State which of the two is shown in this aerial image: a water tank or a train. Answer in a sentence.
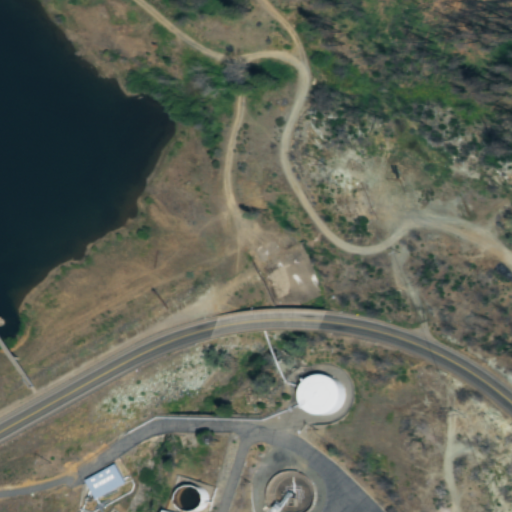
There is a water tank in the scene.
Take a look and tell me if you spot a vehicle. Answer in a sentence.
No, I can't see a single vehicle in this photo.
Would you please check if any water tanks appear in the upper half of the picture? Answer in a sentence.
No, there is no water tank in the upper half of the picture.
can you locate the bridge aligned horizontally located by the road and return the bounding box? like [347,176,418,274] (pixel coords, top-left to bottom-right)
[212,309,326,338]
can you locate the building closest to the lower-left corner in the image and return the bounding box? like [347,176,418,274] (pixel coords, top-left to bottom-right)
[86,464,126,500]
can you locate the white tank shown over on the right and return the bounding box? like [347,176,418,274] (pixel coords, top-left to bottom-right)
[297,372,346,418]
